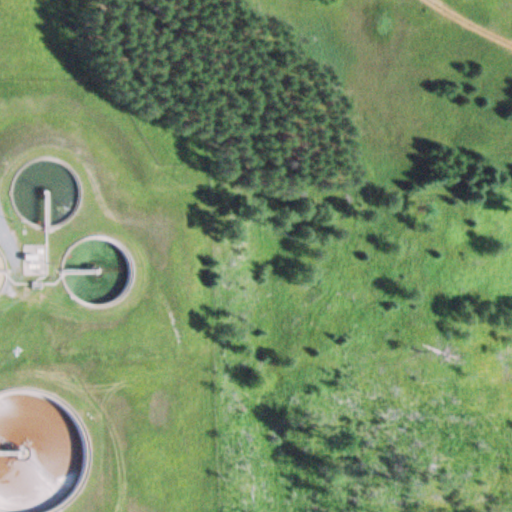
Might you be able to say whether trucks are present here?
No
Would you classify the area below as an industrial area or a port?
industrial area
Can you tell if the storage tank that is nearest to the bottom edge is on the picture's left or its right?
left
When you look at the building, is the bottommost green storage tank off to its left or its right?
to the right of it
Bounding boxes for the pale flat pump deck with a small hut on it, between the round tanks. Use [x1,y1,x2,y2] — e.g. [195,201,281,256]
[23,244,48,276]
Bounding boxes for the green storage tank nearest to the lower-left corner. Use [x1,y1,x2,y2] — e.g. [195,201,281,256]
[61,236,133,308]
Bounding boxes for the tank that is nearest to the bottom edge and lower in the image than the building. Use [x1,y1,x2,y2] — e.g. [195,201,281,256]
[0,386,92,512]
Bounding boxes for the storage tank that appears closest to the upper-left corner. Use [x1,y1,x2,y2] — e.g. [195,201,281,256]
[12,158,81,266]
